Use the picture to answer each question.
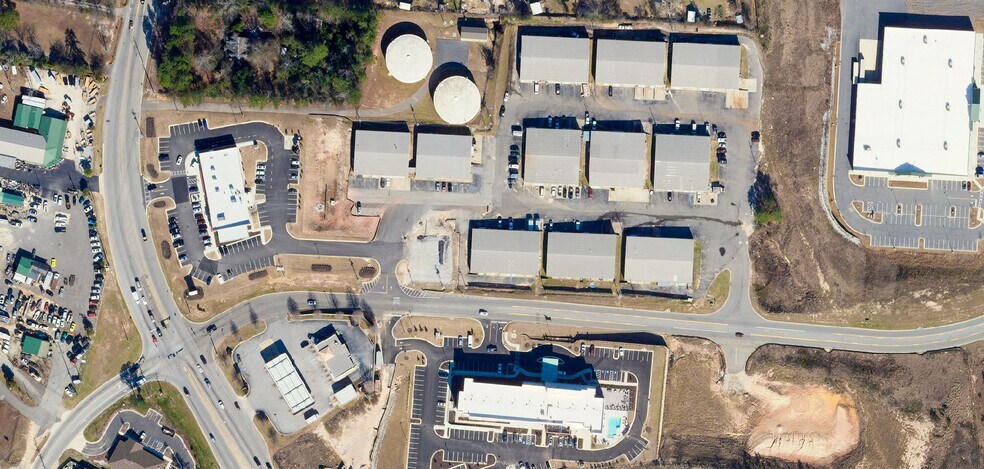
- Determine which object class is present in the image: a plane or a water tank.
water tank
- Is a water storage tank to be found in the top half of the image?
Yes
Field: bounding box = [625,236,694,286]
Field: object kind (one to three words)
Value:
building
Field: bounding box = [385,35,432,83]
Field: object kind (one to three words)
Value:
water tank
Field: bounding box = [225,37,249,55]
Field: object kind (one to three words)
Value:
house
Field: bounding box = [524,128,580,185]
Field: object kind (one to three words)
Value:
building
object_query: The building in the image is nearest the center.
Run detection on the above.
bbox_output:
[470,229,542,277]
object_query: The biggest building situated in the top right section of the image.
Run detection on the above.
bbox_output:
[851,26,983,177]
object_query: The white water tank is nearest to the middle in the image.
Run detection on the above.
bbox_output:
[433,76,480,123]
